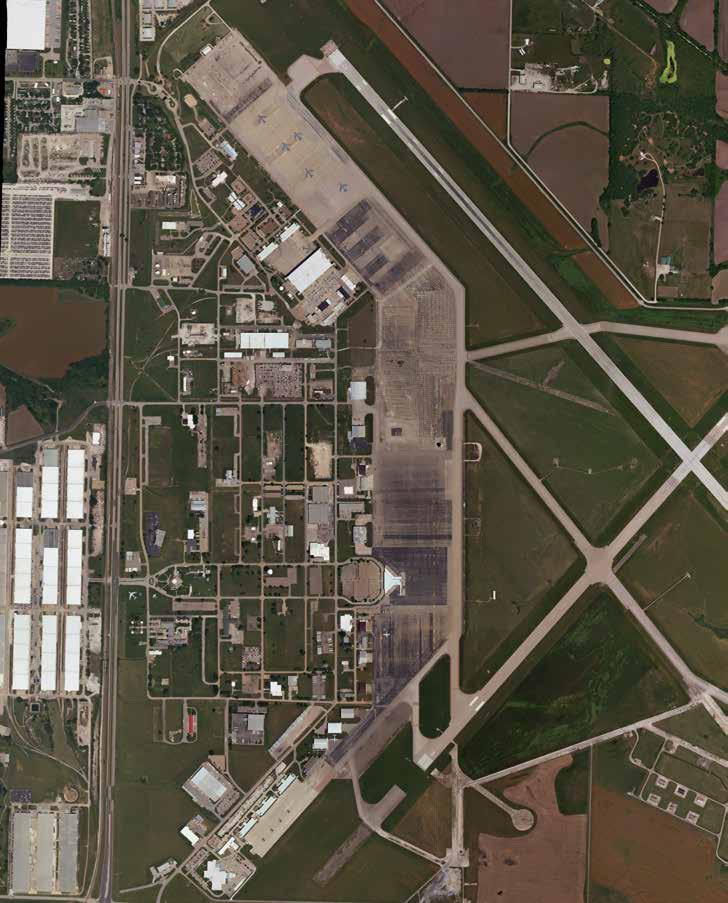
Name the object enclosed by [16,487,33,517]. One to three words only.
building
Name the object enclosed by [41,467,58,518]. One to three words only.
building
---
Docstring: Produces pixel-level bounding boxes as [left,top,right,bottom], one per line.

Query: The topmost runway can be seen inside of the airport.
[329,47,728,512]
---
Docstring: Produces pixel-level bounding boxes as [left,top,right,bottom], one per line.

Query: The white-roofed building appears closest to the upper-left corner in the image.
[6,0,45,49]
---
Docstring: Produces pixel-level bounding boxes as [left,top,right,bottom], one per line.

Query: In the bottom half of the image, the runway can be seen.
[420,417,728,767]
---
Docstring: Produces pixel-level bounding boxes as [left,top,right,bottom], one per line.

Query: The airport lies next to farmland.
[183,29,728,887]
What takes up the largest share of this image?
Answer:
grass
